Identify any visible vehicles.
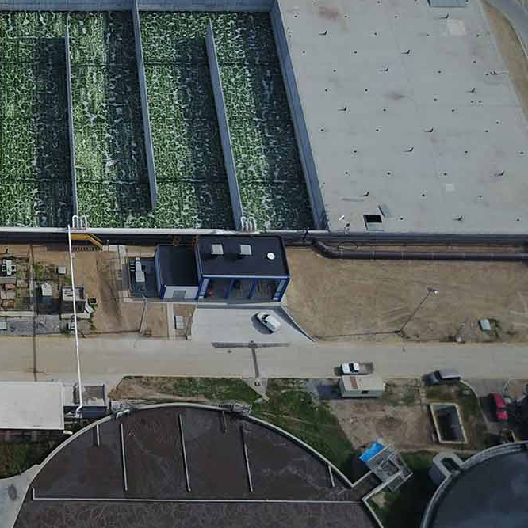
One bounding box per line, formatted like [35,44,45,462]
[256,309,283,332]
[487,392,508,420]
[339,360,374,374]
[426,367,463,384]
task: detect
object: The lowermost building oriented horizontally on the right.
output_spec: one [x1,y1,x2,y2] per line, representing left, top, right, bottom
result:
[335,374,386,397]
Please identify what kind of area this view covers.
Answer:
industrial area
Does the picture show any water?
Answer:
Yes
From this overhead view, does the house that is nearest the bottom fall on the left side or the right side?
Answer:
right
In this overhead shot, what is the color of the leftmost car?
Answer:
white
